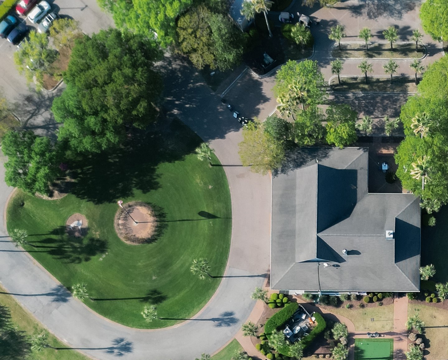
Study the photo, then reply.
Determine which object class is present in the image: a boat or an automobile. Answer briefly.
automobile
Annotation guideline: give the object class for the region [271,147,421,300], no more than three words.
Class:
building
